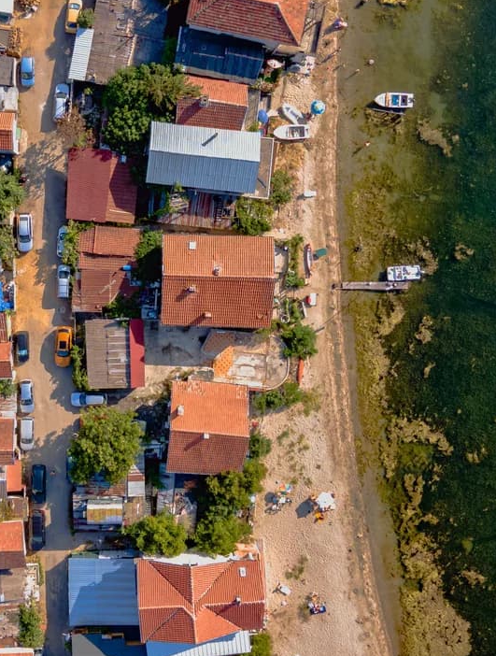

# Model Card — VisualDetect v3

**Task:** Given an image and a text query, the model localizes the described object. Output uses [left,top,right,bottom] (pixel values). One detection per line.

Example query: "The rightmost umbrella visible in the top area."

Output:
[308,100,324,116]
